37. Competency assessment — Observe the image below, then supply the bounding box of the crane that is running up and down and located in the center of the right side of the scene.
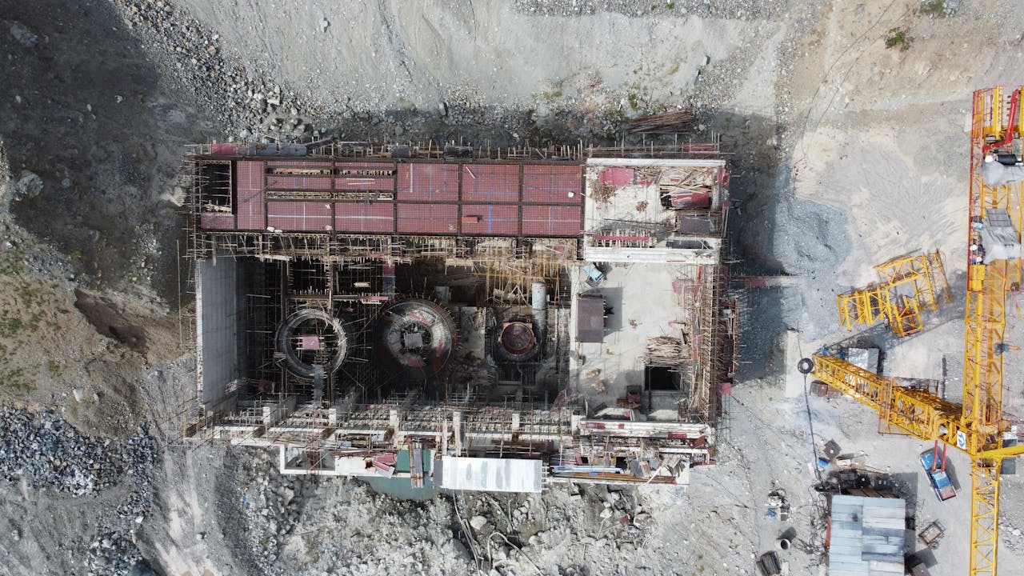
[807,82,1024,576]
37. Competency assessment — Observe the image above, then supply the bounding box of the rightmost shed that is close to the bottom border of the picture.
[824,487,907,576]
